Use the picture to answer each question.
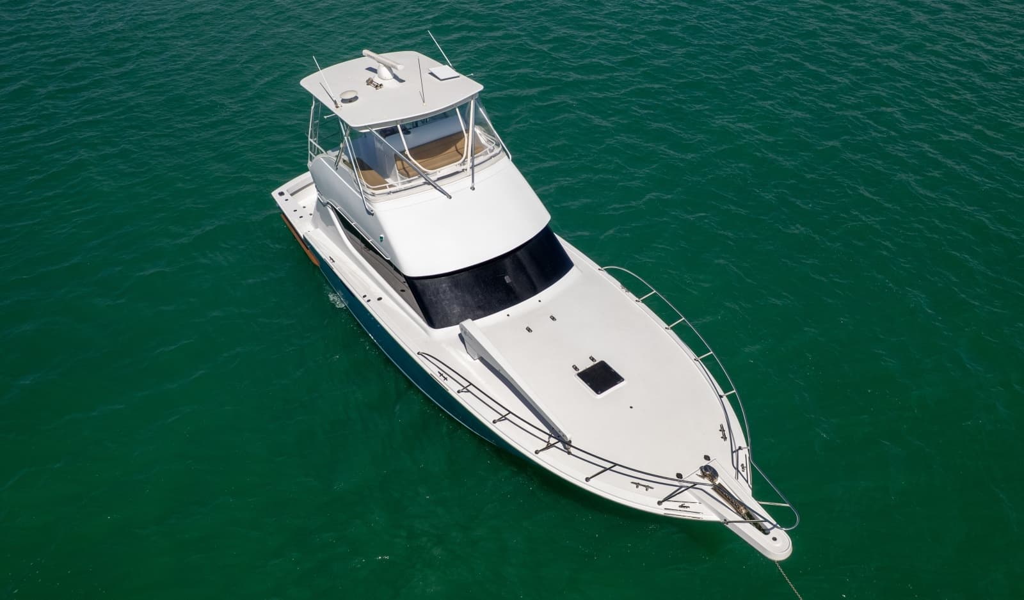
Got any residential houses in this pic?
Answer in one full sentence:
No, the frame has no residential house in it.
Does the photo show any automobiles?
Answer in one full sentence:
No, the photo shows no automobile.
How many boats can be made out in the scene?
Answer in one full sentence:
In total, 1 boat can be seen.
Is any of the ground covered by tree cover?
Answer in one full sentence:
No, the picture contains no tree cover.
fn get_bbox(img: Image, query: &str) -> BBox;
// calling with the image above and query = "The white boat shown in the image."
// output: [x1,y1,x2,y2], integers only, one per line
[271,29,799,560]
